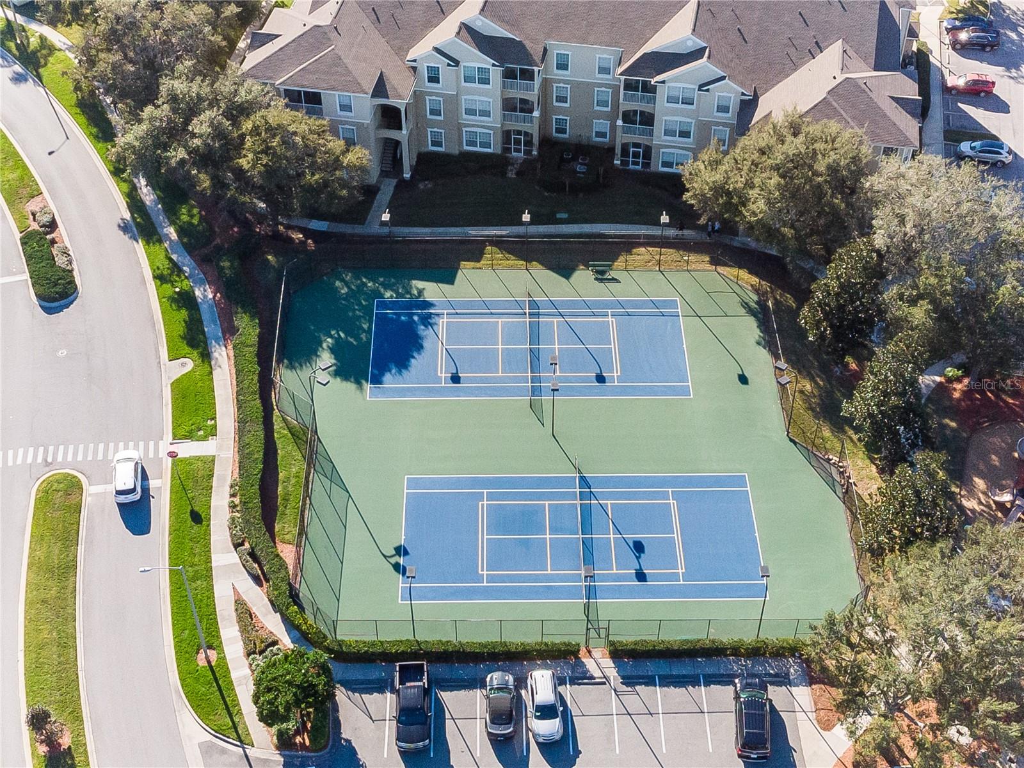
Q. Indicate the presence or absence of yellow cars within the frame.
No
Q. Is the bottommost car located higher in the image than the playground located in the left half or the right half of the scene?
right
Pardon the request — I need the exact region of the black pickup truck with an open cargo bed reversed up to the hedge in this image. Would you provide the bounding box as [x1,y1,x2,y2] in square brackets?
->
[391,656,432,748]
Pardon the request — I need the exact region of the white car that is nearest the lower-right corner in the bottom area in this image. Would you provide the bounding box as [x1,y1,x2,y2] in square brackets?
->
[528,662,565,734]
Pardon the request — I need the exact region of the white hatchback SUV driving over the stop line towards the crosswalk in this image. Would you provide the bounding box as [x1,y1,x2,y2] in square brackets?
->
[110,444,143,501]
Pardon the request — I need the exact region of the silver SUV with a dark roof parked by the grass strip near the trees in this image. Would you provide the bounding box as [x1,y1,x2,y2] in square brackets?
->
[958,136,1015,161]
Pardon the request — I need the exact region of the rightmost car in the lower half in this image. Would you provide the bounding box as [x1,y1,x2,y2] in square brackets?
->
[732,670,777,752]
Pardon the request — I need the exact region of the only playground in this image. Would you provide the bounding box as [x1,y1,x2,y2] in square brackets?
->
[920,374,1024,554]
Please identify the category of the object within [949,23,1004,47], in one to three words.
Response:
car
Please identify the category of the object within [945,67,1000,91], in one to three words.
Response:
car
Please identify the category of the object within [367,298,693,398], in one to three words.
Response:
tennis court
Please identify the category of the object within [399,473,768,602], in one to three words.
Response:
tennis court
